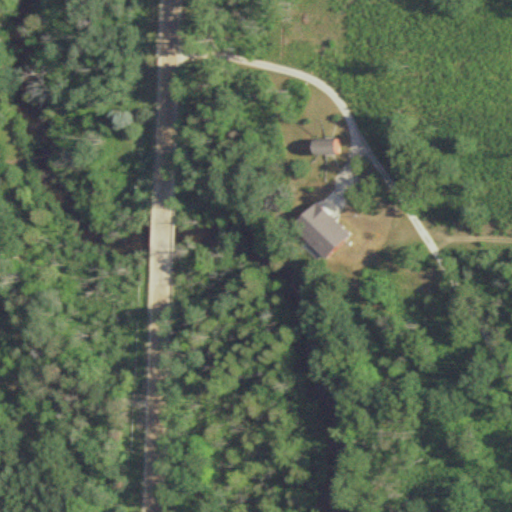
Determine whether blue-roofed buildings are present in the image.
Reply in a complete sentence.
No, the picture doesn't show any blue-roofed building.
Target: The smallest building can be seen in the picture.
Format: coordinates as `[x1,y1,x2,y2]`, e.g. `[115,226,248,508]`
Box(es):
[311,138,342,156]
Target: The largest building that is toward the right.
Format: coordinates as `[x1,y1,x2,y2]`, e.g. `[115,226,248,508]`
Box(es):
[294,202,350,259]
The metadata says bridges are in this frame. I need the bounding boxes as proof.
[148,222,176,284]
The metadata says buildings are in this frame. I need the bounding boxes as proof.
[294,202,350,259]
[311,138,342,156]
